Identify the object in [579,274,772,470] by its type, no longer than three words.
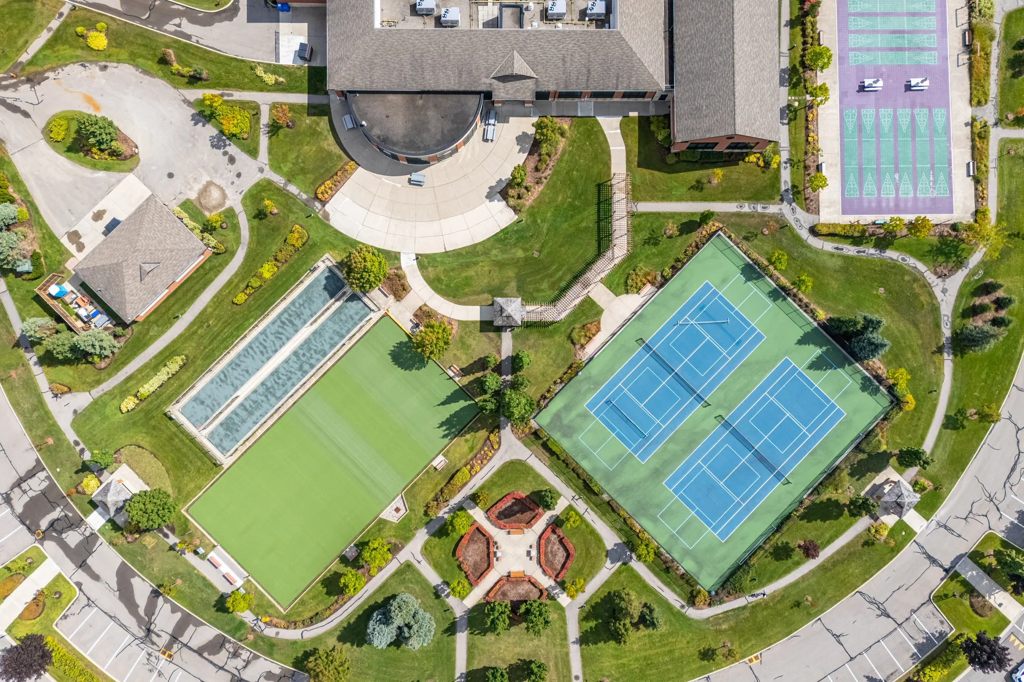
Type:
tennis court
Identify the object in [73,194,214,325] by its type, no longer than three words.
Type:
building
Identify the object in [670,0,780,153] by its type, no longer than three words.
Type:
building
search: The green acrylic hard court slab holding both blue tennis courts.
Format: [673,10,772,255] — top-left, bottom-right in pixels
[532,228,899,594]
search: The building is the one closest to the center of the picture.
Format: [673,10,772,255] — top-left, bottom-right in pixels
[493,297,522,326]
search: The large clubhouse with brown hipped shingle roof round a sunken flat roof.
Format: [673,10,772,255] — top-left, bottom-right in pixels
[273,0,674,161]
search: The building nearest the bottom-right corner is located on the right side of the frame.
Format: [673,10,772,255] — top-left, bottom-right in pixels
[875,479,921,519]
